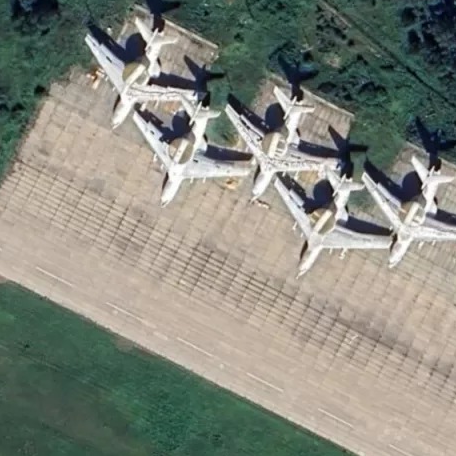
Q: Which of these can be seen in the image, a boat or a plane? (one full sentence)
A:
Looking from above, you can make out a plane.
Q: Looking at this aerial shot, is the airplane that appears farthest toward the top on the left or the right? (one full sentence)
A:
You can find the airplane that appears farthest toward the top on the left side of the picture.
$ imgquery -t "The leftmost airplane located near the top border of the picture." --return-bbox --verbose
[85,18,203,133]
